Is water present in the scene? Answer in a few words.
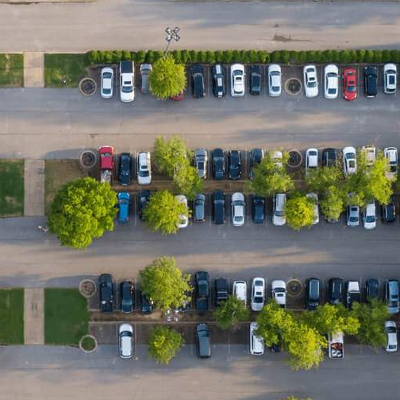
No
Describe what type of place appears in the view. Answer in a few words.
parking lot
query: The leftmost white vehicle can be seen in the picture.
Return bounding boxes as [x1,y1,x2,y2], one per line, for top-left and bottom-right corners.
[98,67,114,99]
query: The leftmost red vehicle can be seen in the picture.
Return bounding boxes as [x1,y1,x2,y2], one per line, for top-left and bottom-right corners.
[98,145,113,183]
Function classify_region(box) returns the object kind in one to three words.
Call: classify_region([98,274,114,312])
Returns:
vehicle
